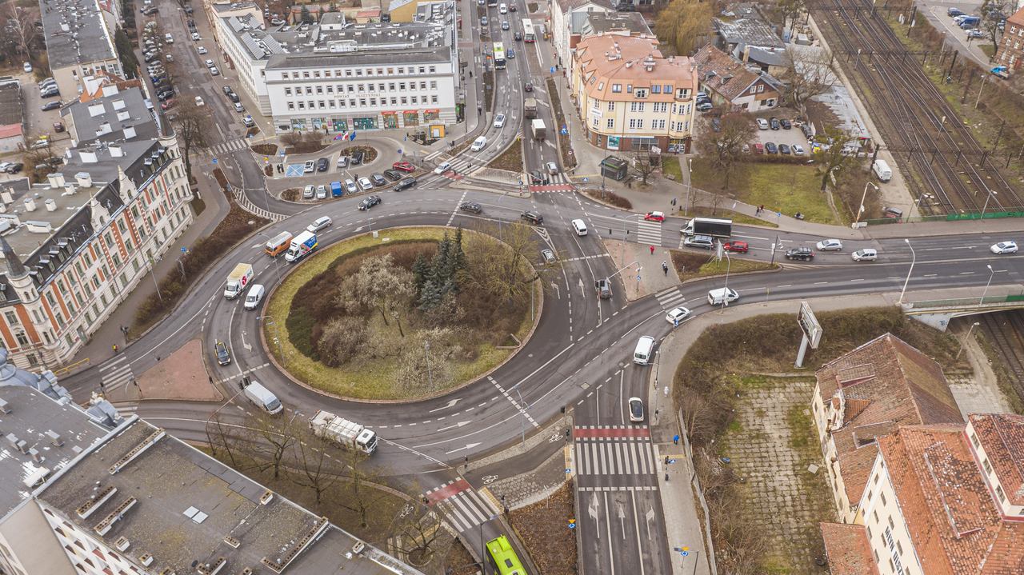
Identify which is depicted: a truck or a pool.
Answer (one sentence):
Visible in the photo is a truck.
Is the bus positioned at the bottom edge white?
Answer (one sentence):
No, from above the bus positioned at the bottom edge looks green.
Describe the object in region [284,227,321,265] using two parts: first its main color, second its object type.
white truck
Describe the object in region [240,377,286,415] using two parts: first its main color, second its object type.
white van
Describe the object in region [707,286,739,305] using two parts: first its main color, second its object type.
white vehicle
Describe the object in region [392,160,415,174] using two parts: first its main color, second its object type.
red car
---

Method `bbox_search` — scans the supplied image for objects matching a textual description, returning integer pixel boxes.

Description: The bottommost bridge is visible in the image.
[893,282,1024,323]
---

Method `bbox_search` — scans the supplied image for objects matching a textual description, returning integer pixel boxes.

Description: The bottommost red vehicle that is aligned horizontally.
[721,239,751,253]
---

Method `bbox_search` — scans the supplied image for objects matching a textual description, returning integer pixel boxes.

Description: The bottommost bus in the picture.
[485,535,532,575]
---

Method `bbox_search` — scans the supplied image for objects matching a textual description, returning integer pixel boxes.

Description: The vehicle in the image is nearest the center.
[540,248,556,265]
